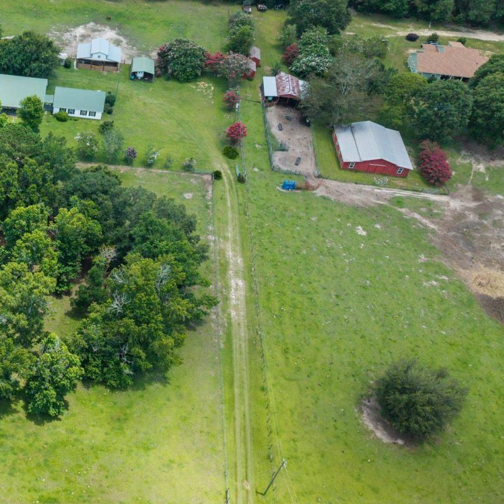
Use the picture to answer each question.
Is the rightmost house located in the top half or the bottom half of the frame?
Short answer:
top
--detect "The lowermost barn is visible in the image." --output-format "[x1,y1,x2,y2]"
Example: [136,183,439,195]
[332,121,414,176]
